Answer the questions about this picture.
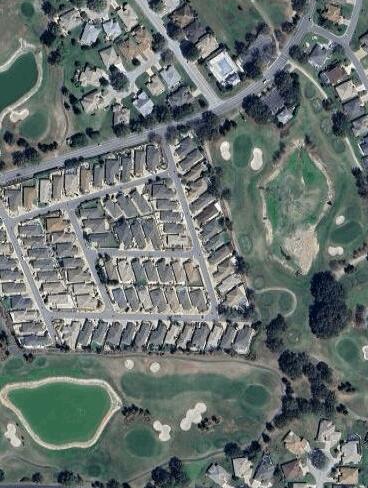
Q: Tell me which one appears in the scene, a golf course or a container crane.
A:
golf course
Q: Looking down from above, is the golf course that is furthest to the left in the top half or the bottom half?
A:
top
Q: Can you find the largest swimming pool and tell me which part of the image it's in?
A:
top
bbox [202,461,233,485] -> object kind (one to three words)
house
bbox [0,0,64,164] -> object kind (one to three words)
golf course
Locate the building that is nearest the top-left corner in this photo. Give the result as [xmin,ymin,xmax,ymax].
[57,8,82,33]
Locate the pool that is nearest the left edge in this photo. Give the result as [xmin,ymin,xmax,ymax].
[208,48,237,78]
